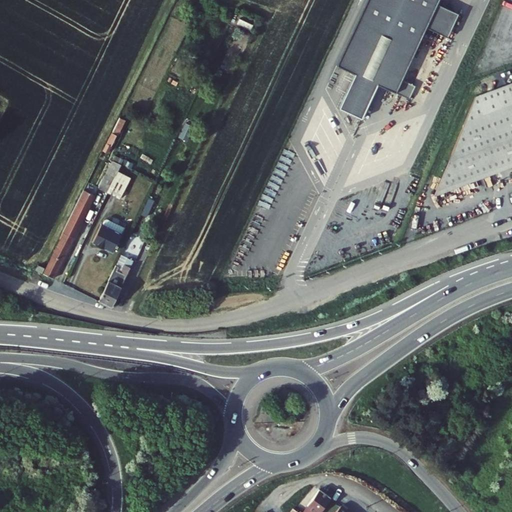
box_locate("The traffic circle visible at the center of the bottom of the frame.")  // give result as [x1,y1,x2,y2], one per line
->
[224,357,338,472]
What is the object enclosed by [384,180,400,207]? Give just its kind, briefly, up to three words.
vehicle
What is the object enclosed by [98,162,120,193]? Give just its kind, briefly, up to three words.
shed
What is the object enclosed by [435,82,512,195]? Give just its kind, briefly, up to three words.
building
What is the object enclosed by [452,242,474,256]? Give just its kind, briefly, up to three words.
vehicle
